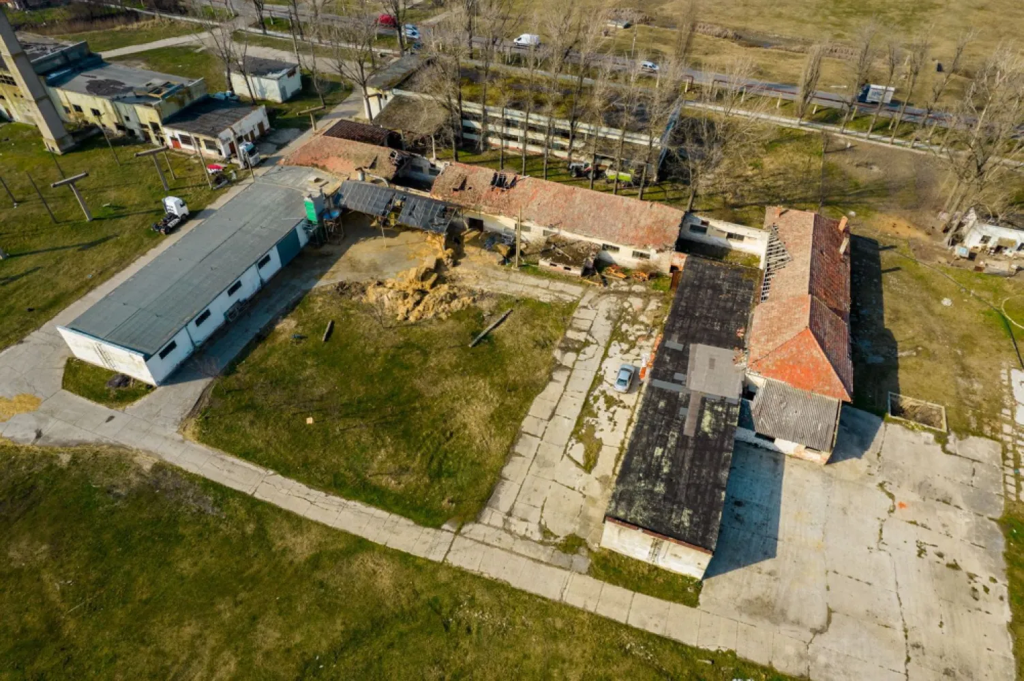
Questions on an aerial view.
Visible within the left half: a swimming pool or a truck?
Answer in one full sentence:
The one visible within the left half is a truck.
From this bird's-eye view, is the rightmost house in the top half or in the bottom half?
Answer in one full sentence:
You can find the rightmost house in the top half.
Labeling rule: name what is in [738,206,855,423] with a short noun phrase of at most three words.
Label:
house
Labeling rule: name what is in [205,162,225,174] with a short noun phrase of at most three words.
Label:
vehicle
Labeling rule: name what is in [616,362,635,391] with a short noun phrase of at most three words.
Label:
car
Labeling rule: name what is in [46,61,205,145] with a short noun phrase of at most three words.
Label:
building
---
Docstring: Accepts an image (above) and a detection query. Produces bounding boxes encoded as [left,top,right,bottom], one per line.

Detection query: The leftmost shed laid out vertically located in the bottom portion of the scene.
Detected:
[599,255,762,581]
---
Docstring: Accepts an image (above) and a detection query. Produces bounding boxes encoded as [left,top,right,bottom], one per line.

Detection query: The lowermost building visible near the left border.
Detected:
[50,182,335,387]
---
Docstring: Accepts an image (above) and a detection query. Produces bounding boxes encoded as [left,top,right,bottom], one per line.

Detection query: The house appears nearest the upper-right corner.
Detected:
[944,213,1024,259]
